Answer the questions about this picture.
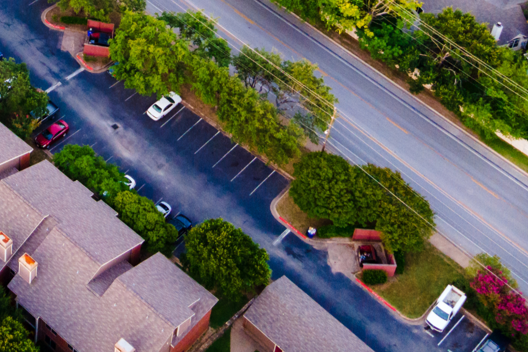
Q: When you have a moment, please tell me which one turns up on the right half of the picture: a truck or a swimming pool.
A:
truck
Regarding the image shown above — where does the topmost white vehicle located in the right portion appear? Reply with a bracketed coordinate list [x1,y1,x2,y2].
[429,279,466,335]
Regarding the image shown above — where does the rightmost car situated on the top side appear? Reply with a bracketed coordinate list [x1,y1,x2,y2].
[146,93,184,120]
